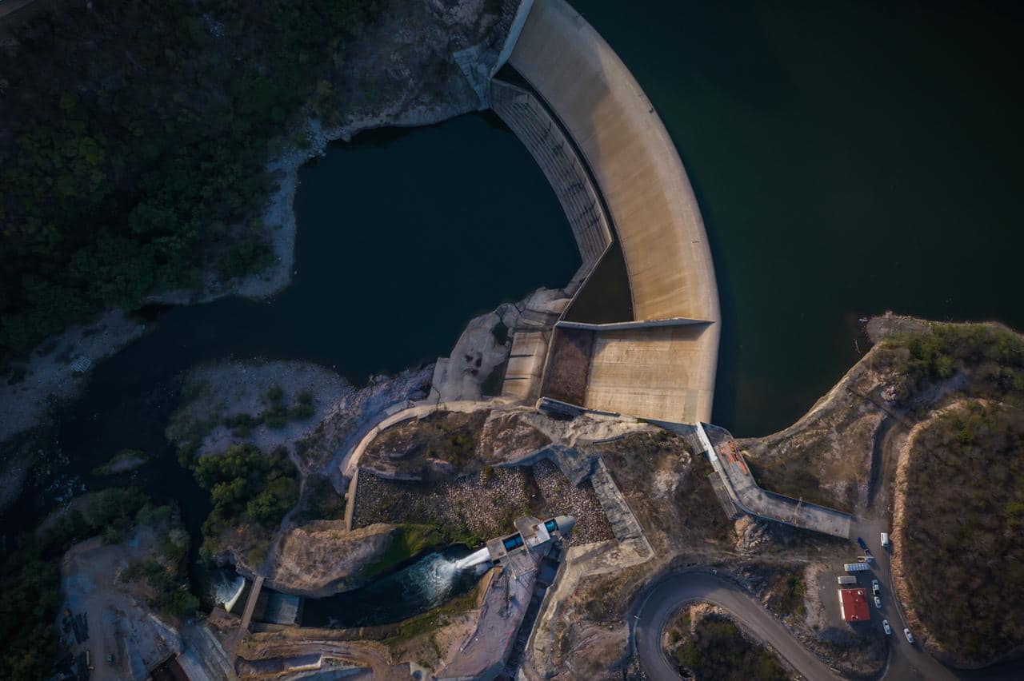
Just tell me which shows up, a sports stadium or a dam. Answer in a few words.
dam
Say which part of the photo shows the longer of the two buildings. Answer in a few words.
bottom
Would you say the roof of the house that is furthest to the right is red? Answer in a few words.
Yes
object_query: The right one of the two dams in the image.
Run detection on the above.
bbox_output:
[452,0,719,438]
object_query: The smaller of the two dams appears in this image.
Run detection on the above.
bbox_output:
[251,589,302,632]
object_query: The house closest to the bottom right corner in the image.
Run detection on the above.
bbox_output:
[837,585,870,622]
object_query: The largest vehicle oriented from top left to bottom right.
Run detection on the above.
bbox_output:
[856,537,874,558]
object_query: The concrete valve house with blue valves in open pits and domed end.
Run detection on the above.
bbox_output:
[479,513,574,569]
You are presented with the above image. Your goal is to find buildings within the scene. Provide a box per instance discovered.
[837,585,870,622]
[479,513,574,569]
